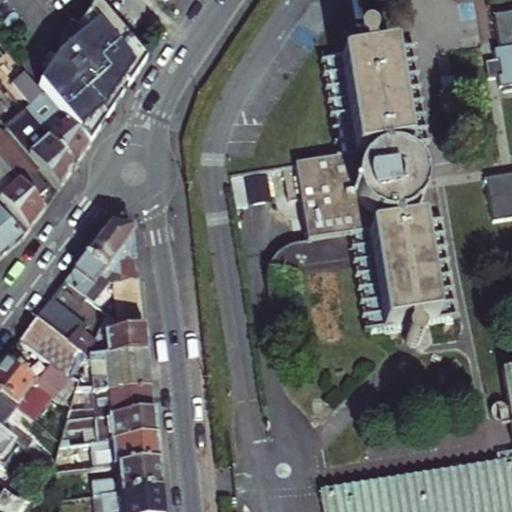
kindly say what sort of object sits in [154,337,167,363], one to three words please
vehicle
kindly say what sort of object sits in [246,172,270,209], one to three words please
building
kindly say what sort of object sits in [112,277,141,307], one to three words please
house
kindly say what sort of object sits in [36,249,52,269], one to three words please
car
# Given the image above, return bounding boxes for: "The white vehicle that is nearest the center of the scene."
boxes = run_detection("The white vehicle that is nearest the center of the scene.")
[186,334,198,360]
